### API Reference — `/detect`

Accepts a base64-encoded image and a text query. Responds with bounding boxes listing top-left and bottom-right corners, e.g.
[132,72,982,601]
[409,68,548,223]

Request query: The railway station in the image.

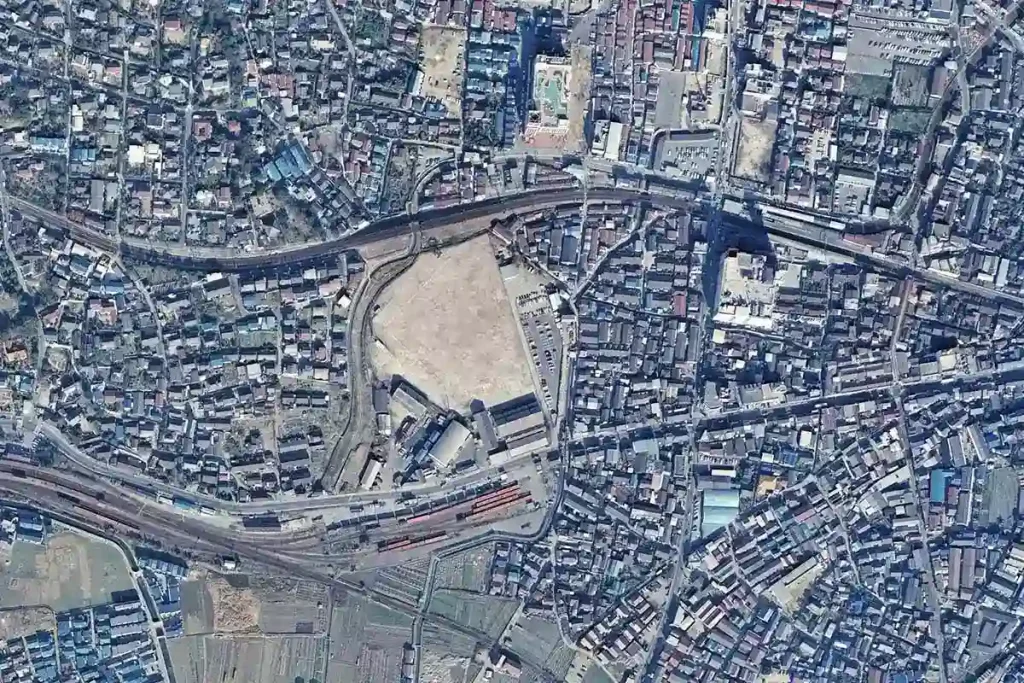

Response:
[762,208,875,260]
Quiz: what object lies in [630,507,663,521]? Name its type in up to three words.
building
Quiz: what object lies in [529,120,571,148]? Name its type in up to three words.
building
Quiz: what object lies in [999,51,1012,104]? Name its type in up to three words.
house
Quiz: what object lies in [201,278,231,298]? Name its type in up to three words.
house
